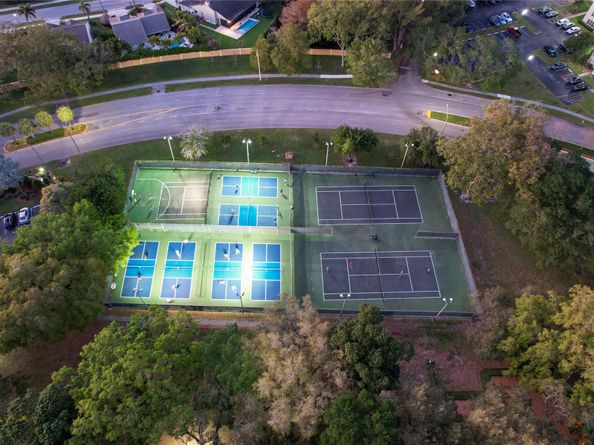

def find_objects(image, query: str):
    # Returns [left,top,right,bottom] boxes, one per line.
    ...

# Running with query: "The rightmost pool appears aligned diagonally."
[234,16,258,32]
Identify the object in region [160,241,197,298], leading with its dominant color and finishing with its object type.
blue sports court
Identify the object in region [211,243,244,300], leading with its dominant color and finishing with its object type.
blue sports court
